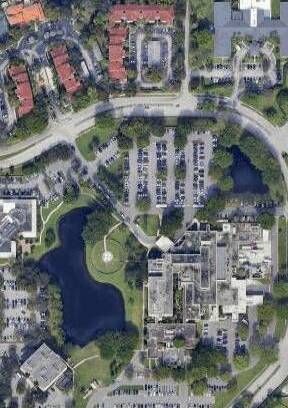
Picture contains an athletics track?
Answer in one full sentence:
No, this view has no athletics track in it.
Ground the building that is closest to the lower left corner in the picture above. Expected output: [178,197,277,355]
[19,343,72,391]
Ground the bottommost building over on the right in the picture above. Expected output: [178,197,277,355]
[145,223,271,362]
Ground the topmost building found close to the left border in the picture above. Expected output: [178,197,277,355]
[6,3,43,24]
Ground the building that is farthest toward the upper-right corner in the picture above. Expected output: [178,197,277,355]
[213,0,288,57]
